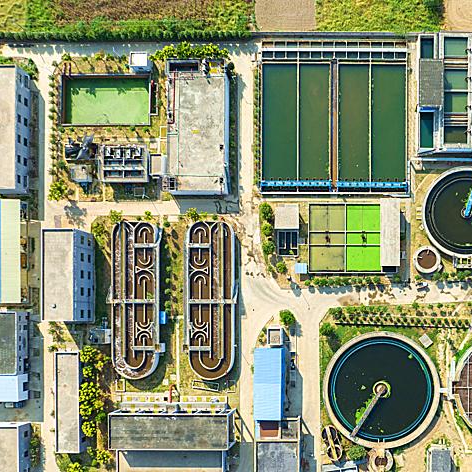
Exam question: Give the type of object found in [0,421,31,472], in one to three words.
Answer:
building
